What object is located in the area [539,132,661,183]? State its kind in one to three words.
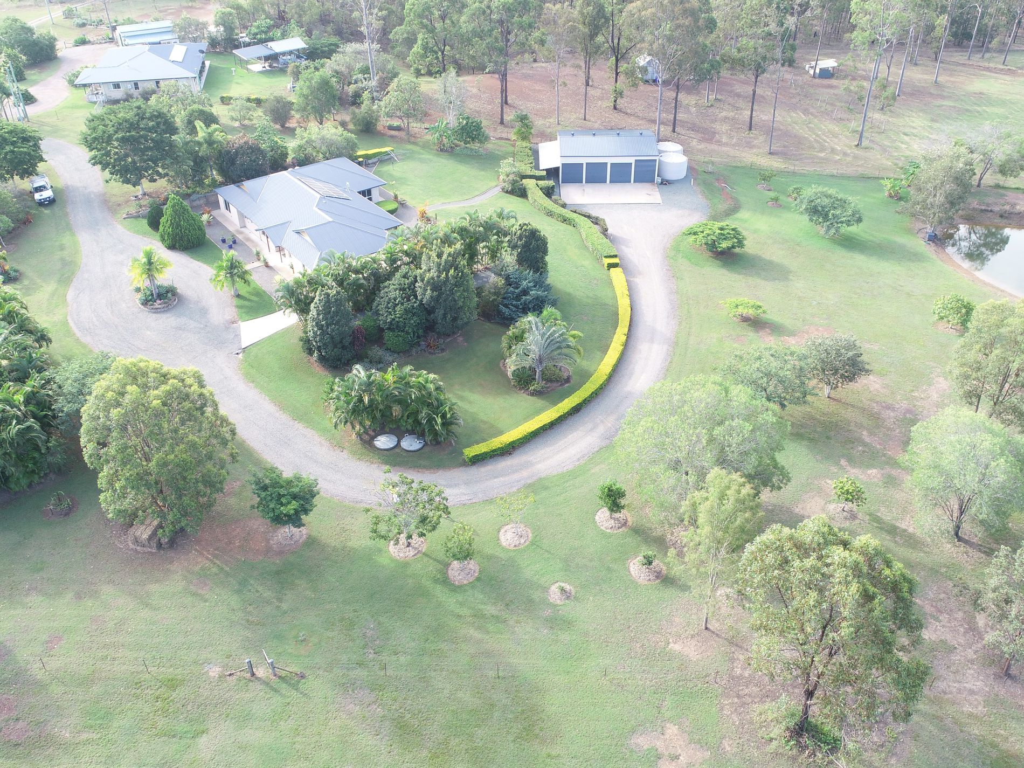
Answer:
shed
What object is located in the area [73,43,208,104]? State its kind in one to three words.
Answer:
house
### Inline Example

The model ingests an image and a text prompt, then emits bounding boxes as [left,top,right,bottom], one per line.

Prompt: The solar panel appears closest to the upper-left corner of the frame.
[167,43,187,63]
